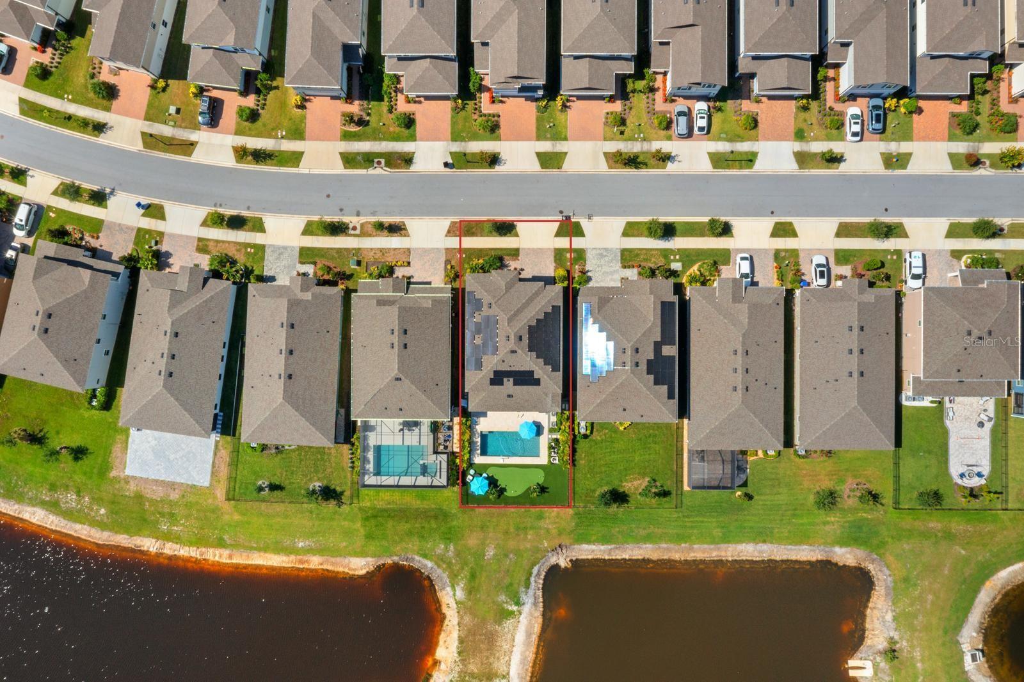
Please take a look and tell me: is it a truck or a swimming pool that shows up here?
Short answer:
swimming pool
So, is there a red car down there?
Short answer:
No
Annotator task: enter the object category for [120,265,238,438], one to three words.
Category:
house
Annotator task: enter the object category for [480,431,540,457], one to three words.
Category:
swimming pool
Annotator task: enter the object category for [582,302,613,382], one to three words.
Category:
solar array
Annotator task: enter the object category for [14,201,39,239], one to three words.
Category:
car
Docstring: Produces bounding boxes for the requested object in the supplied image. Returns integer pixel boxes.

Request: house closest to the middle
[466,270,563,412]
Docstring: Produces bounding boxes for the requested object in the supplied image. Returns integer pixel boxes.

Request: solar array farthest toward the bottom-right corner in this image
[647,301,676,399]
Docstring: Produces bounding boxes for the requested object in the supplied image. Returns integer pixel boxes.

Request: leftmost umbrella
[470,475,489,494]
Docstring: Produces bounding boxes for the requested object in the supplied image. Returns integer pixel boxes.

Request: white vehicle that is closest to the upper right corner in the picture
[845,107,863,143]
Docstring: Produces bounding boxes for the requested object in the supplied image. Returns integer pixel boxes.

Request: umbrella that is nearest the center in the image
[519,420,537,438]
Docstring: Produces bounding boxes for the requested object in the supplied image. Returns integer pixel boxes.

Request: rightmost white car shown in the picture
[905,251,925,289]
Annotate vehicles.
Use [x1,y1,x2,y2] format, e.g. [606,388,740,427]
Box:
[735,253,752,287]
[845,107,863,143]
[674,103,691,138]
[866,99,885,134]
[905,251,925,289]
[14,201,39,239]
[810,254,829,288]
[0,40,13,76]
[197,93,216,127]
[693,101,710,136]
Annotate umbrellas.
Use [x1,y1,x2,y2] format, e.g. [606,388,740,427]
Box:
[519,420,537,438]
[470,475,489,494]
